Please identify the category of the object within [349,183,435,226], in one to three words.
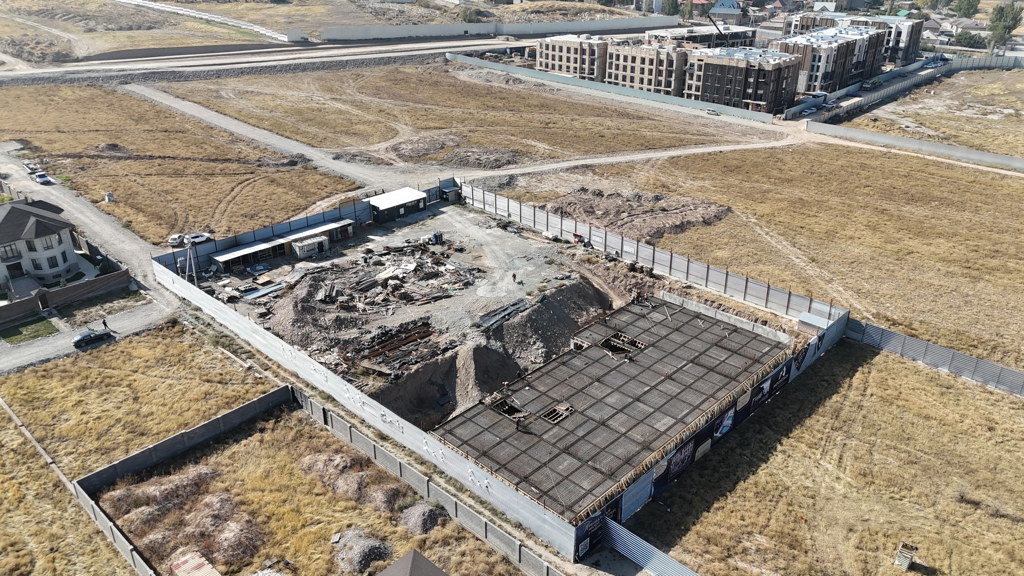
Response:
building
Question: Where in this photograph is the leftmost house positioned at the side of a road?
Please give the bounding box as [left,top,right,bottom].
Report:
[0,201,78,282]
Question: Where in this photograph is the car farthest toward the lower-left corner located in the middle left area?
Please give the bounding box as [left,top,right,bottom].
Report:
[75,328,113,346]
